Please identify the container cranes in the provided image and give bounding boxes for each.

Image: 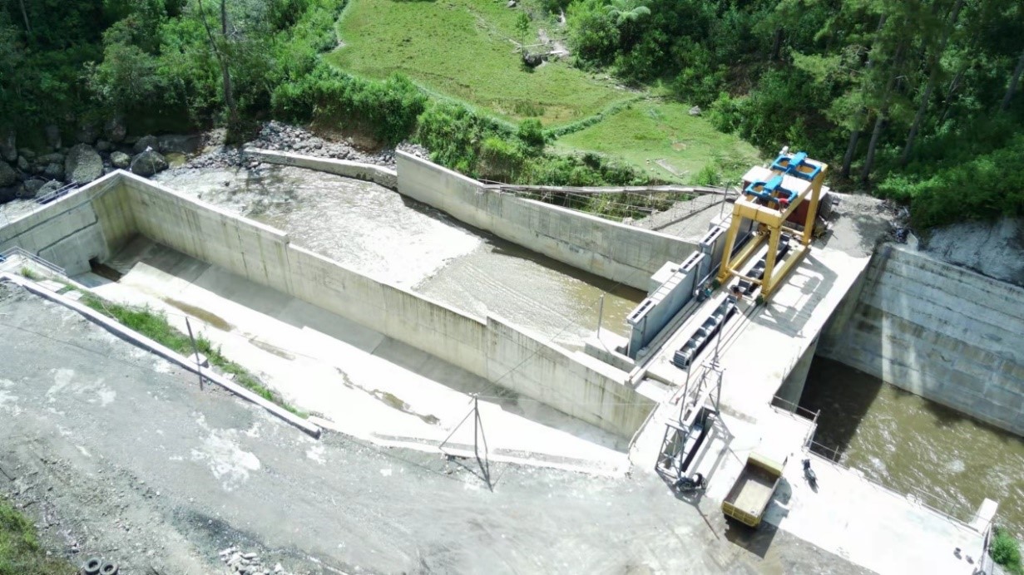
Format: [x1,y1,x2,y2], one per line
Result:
[715,151,826,298]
